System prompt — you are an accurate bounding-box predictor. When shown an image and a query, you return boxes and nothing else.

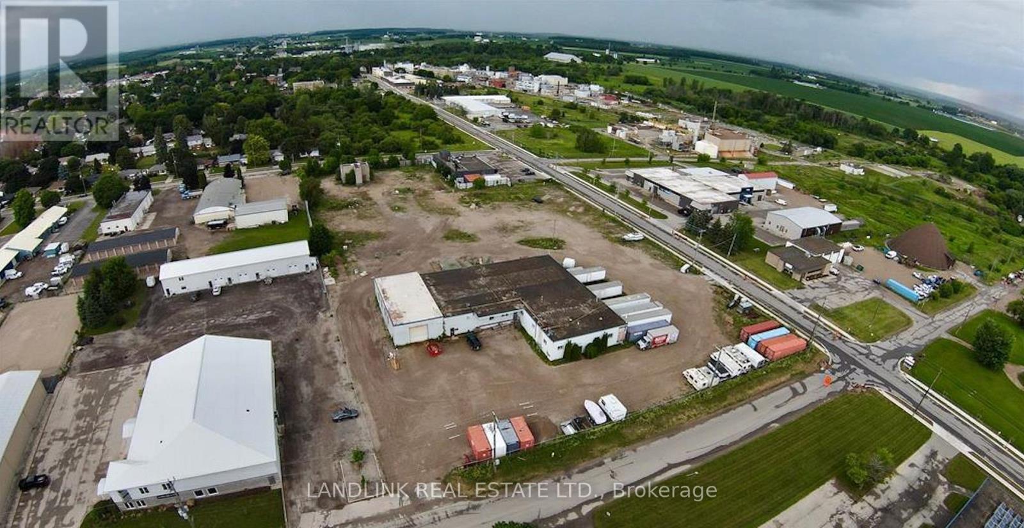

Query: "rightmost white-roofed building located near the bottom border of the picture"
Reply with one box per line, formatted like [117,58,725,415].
[97,334,285,515]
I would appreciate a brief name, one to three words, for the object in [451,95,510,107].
building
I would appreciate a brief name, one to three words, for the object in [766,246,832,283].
building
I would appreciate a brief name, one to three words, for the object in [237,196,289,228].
barn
